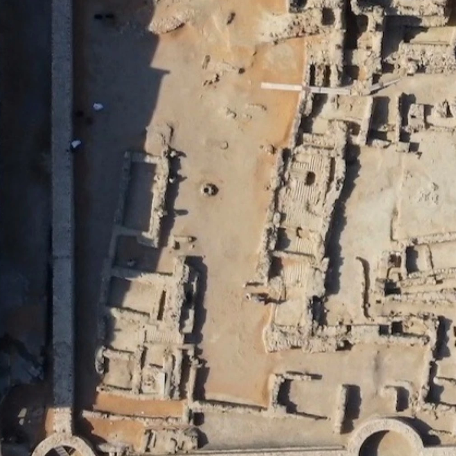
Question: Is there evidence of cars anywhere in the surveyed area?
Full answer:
No, I find no car anywhere in the image.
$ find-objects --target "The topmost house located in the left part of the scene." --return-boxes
[97,131,201,345]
